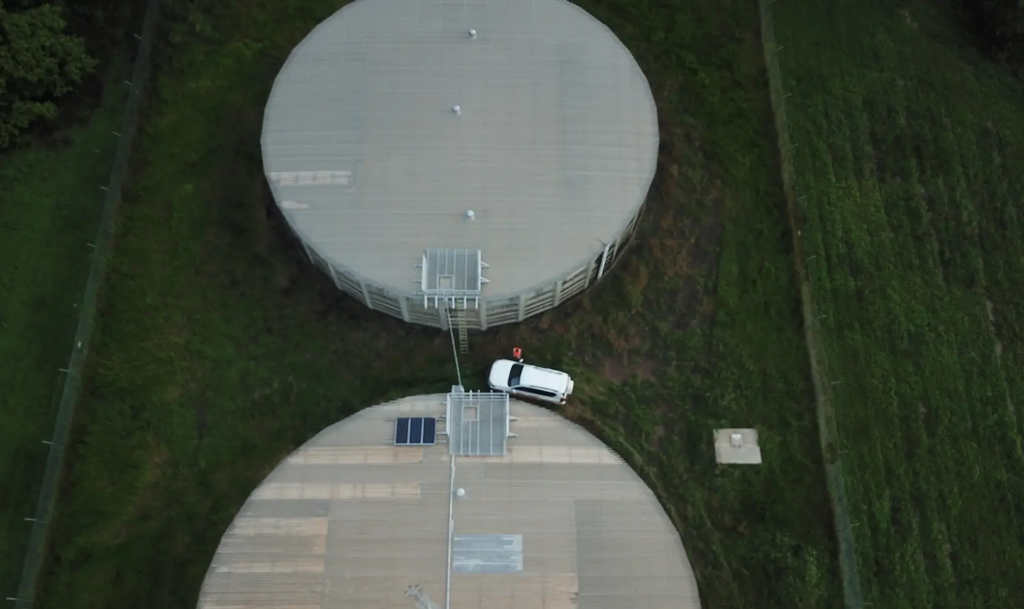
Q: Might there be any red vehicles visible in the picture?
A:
No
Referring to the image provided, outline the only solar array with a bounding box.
[387,417,446,446]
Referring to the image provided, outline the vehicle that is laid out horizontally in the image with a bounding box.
[488,359,572,407]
